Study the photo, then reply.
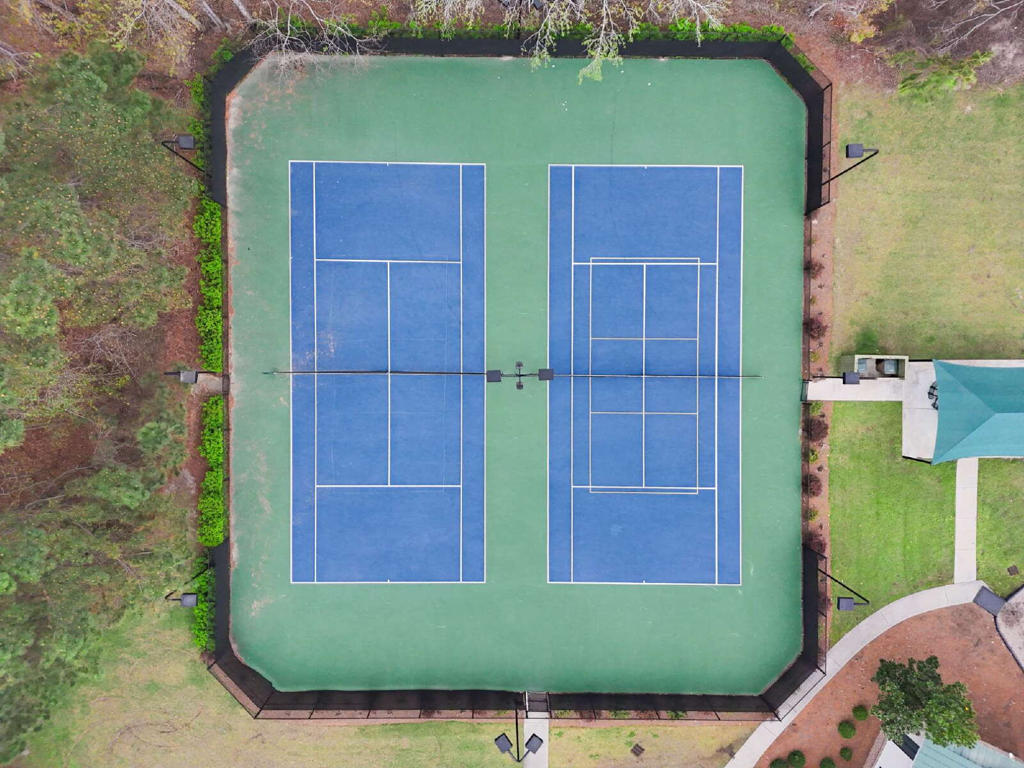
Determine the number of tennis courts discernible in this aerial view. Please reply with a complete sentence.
There are 2 tennis courts in the image.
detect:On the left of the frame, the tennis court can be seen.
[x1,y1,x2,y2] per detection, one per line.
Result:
[228,57,520,692]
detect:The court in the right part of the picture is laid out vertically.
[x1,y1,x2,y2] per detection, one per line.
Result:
[520,59,806,694]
